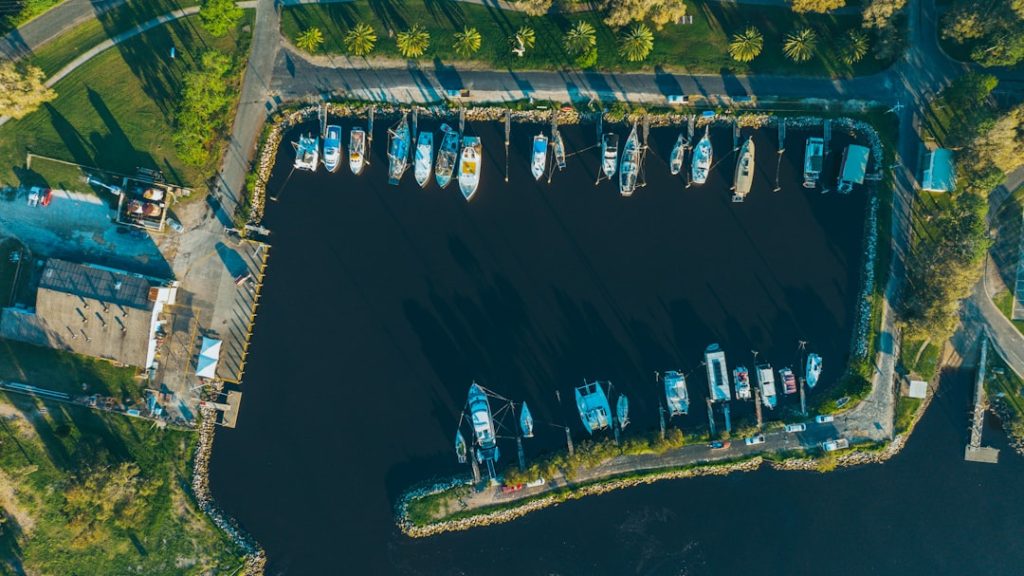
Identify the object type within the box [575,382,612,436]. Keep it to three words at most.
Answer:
boat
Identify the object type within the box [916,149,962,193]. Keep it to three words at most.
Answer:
shed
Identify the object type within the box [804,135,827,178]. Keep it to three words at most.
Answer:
boat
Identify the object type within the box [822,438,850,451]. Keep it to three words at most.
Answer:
vehicle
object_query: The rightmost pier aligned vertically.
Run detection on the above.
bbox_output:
[967,334,989,448]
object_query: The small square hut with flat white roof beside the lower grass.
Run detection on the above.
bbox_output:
[903,380,926,399]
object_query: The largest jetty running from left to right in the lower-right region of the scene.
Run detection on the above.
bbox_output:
[963,446,1004,464]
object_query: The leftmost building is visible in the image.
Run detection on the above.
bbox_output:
[0,258,187,369]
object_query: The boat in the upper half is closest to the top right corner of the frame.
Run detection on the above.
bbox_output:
[841,144,872,186]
